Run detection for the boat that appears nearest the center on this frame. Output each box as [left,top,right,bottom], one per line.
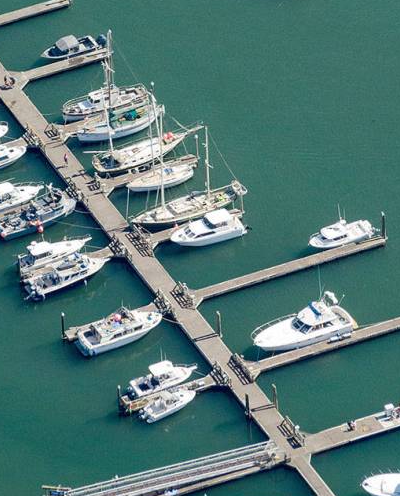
[172,210,254,246]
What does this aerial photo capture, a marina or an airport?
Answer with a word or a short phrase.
marina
